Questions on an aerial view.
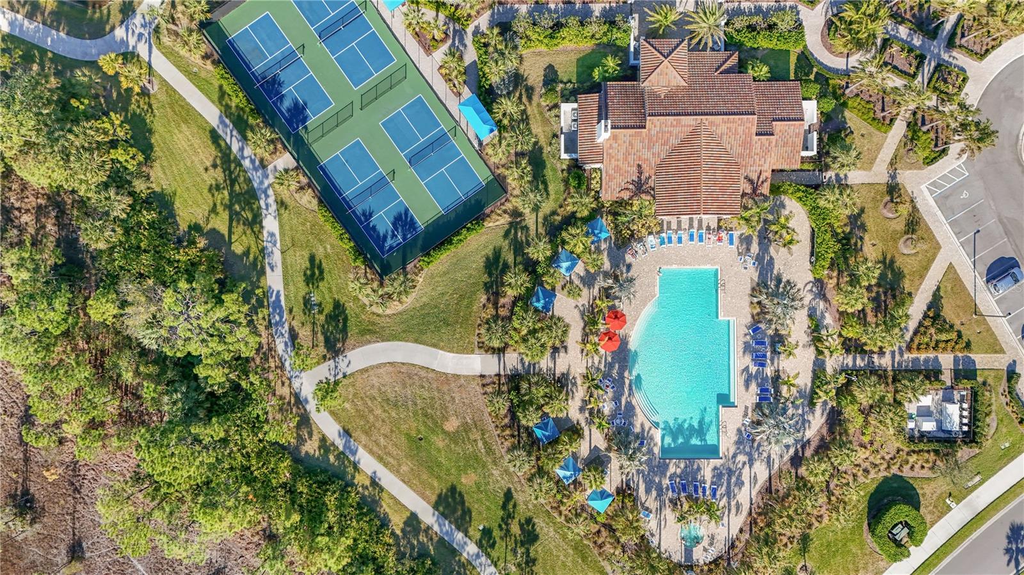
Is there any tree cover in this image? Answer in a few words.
Yes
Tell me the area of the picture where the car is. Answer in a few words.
right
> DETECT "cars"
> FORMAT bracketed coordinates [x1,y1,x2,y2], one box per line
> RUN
[983,266,1024,297]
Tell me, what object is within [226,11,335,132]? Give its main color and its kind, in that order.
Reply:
blue sports court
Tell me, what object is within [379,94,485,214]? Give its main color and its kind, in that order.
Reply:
blue sports court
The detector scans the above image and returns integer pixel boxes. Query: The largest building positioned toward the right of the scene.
[578,37,805,220]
